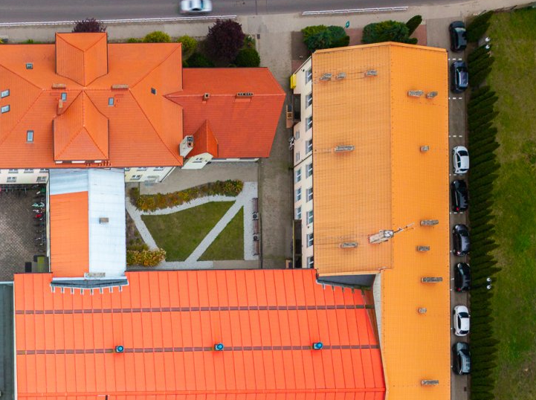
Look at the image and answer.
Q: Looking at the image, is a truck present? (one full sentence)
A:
No, no truck can be seen from above.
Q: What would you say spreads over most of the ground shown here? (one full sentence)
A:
The scene is dominated by buildings.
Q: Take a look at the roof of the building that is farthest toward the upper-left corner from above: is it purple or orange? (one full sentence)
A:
From above, the roof of the building that is farthest toward the upper-left corner appears orange.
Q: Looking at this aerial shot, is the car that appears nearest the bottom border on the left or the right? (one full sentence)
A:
The car that appears nearest the bottom border appears in the right half of the scene.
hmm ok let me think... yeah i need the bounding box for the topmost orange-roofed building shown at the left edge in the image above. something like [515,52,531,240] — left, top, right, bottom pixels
[0,31,184,194]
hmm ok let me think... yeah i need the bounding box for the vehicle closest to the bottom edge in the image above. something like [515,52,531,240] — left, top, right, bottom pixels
[451,342,471,377]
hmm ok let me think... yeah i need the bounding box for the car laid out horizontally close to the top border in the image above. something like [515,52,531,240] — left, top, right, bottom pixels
[179,0,213,15]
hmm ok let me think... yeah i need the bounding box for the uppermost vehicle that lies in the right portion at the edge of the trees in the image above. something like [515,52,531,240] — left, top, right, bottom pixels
[449,20,467,55]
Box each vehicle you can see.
[450,60,469,94]
[451,147,470,174]
[449,20,467,55]
[451,342,471,377]
[179,0,213,15]
[451,180,470,213]
[452,306,470,337]
[452,263,470,293]
[451,224,471,257]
